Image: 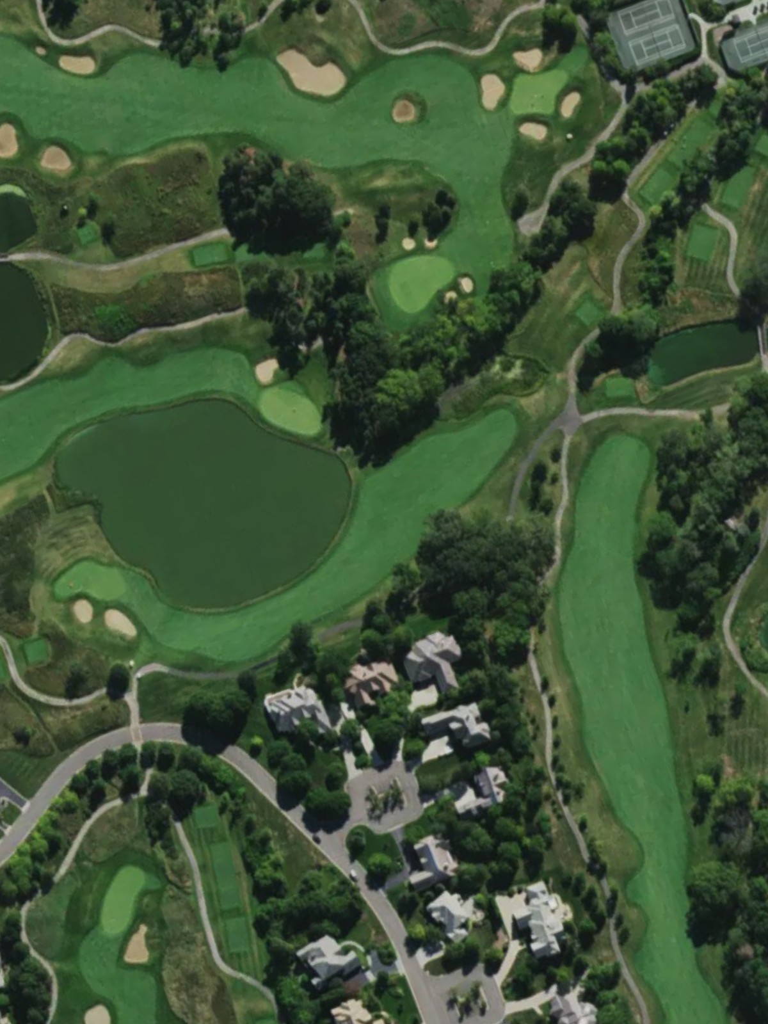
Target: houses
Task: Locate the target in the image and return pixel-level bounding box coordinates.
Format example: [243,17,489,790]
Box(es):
[297,934,359,988]
[402,630,463,689]
[329,996,384,1024]
[548,991,598,1024]
[425,888,474,940]
[473,763,511,808]
[411,838,459,889]
[514,878,563,958]
[341,659,402,710]
[259,683,333,736]
[423,701,492,749]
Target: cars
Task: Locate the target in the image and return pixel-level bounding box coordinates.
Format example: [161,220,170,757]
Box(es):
[312,834,321,844]
[349,869,359,881]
